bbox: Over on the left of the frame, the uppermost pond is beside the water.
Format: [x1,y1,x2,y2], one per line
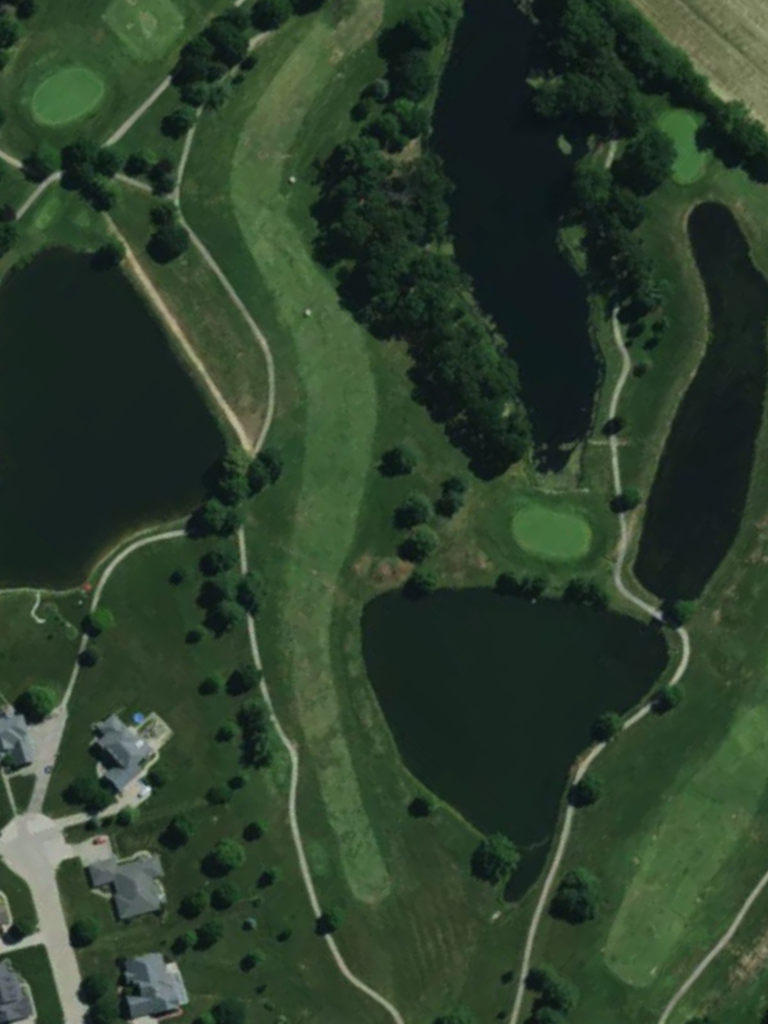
[0,248,225,593]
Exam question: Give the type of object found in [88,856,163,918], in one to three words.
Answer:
house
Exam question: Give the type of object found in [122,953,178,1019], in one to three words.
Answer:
house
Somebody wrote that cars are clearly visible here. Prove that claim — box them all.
[92,837,106,844]
[139,785,152,797]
